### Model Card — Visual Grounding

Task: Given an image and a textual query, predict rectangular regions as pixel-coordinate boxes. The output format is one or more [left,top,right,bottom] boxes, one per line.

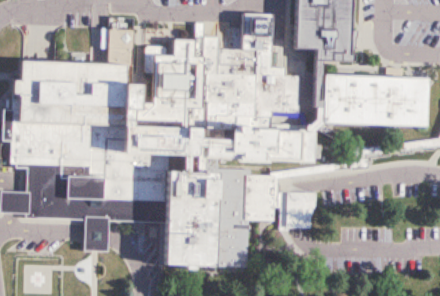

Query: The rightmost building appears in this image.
[324,67,430,128]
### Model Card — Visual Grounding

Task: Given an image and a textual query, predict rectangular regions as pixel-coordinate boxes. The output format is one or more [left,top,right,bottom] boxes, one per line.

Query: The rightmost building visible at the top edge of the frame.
[295,0,354,65]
